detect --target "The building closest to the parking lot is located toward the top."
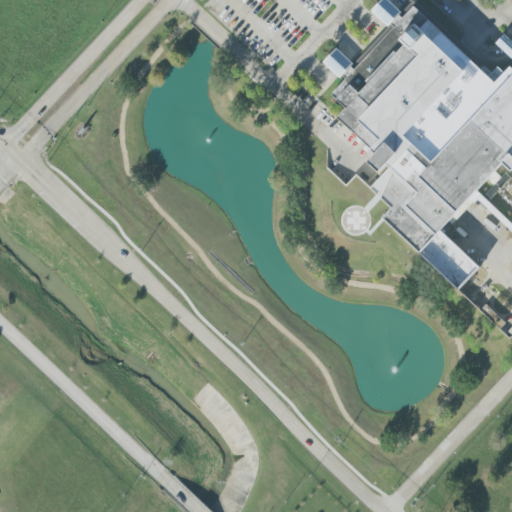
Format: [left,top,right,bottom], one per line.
[332,5,512,328]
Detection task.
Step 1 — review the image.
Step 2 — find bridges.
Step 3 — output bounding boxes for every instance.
[140,454,214,512]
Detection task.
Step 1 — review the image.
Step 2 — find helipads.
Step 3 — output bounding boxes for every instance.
[342,206,370,236]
